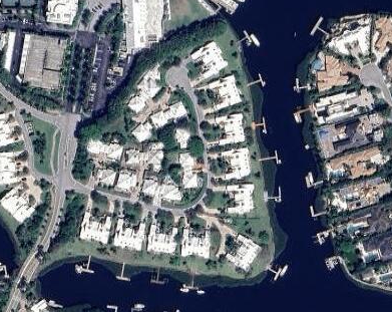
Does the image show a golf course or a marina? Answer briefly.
marina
